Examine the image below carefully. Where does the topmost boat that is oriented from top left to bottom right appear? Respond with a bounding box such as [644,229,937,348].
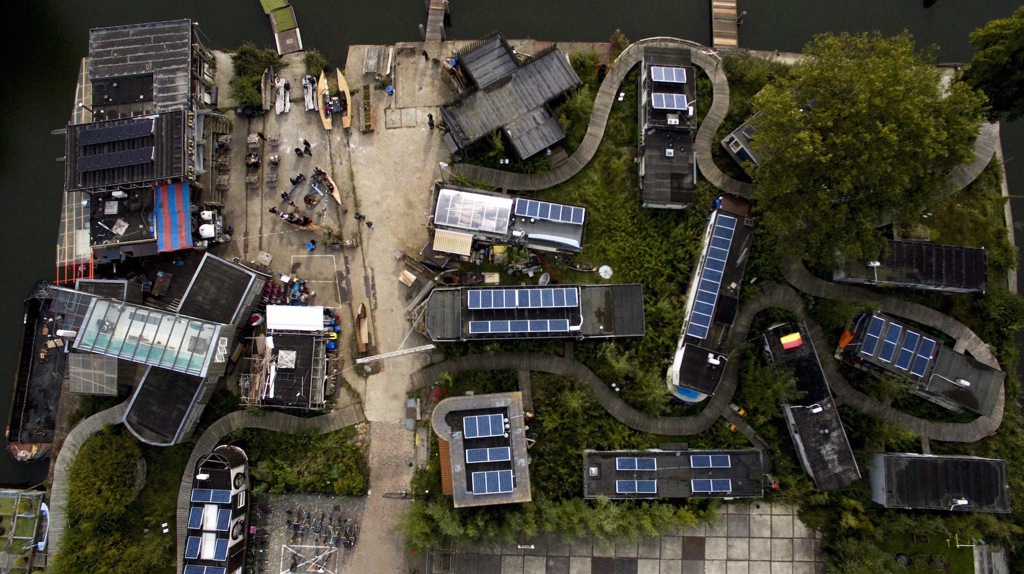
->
[318,169,341,204]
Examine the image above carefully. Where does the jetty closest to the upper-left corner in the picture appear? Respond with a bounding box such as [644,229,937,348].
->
[261,0,303,55]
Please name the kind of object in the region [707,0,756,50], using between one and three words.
pier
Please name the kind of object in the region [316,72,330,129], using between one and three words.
boat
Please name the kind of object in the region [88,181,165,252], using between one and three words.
building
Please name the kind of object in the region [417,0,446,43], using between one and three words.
pier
